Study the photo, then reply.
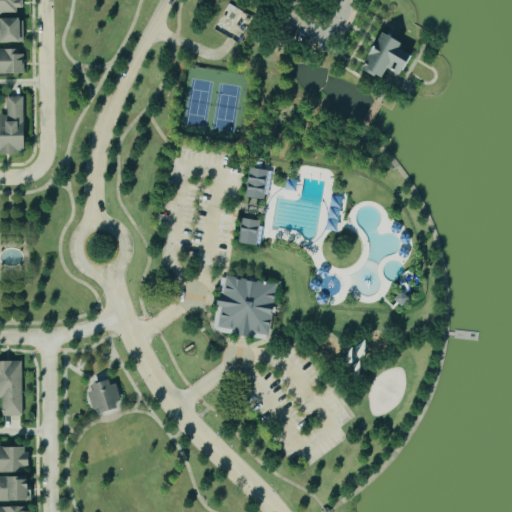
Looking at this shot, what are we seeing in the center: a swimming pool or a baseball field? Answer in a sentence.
Looking in the center, you will find a swimming pool.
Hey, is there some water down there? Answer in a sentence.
Yes, there's water in this view.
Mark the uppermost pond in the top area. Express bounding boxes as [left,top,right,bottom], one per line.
[297,64,374,116]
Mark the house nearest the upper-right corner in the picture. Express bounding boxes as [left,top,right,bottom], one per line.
[362,31,412,76]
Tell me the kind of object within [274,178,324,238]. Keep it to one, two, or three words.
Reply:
swimming pool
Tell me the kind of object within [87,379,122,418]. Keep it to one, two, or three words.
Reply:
house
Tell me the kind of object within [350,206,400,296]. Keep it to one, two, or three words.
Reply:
swimming pool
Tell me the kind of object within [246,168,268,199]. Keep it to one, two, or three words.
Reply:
building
